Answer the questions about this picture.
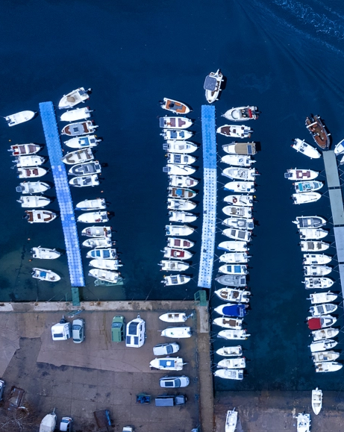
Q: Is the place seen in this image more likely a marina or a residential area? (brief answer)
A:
marina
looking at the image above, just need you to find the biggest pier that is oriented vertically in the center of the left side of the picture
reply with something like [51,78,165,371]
[39,100,86,287]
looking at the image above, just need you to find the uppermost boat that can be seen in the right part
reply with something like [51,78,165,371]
[202,65,225,105]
